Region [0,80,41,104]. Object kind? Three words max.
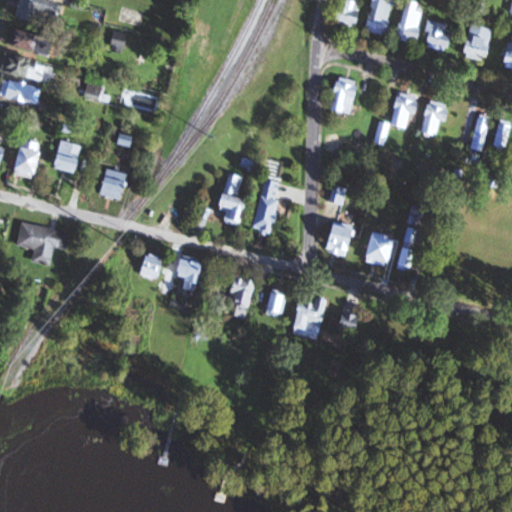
house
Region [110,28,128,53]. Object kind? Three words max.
house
